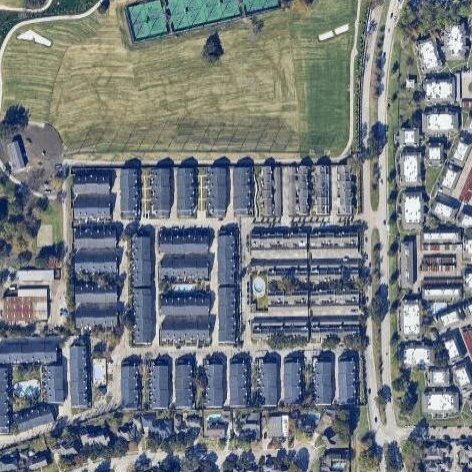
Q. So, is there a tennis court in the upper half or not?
Yes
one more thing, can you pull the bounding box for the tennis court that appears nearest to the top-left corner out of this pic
[128,0,169,40]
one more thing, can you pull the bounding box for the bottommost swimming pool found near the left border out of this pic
[15,381,39,402]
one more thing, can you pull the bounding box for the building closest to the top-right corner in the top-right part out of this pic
[445,24,468,59]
